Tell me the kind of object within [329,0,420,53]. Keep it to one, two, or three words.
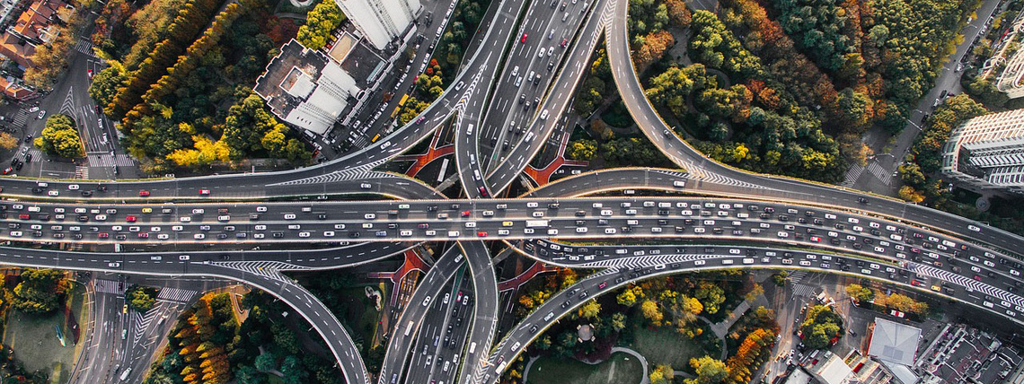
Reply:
building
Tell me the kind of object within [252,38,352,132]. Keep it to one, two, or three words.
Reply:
building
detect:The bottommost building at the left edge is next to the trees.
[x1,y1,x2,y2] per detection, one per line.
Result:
[0,70,45,107]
